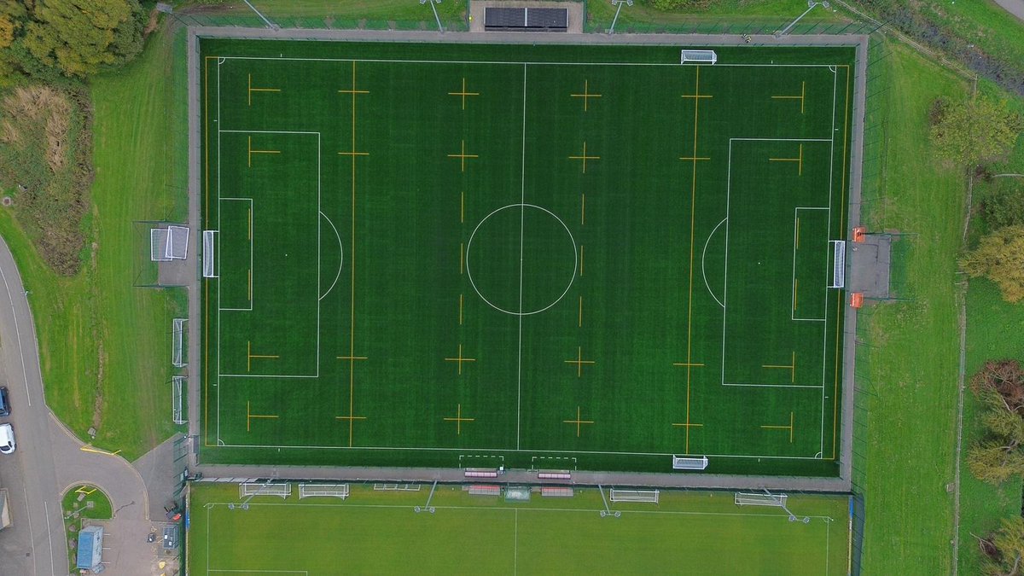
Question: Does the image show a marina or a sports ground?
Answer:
sports ground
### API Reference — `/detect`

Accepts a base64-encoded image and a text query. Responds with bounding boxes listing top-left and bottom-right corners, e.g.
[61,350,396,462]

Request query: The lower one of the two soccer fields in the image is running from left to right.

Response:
[187,479,851,576]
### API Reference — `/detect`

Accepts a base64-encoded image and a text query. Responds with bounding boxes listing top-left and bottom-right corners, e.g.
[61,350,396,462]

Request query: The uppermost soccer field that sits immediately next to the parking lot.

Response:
[199,39,856,477]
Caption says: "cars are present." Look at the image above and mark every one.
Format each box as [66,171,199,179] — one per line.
[0,388,10,416]
[0,424,15,454]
